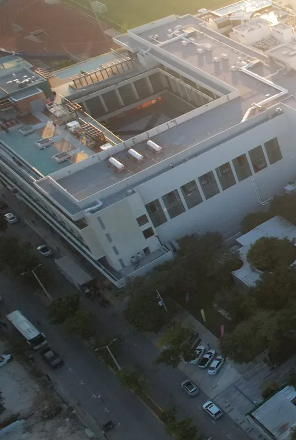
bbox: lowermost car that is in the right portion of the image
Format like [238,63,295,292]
[200,398,225,422]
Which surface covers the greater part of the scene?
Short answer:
buildings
